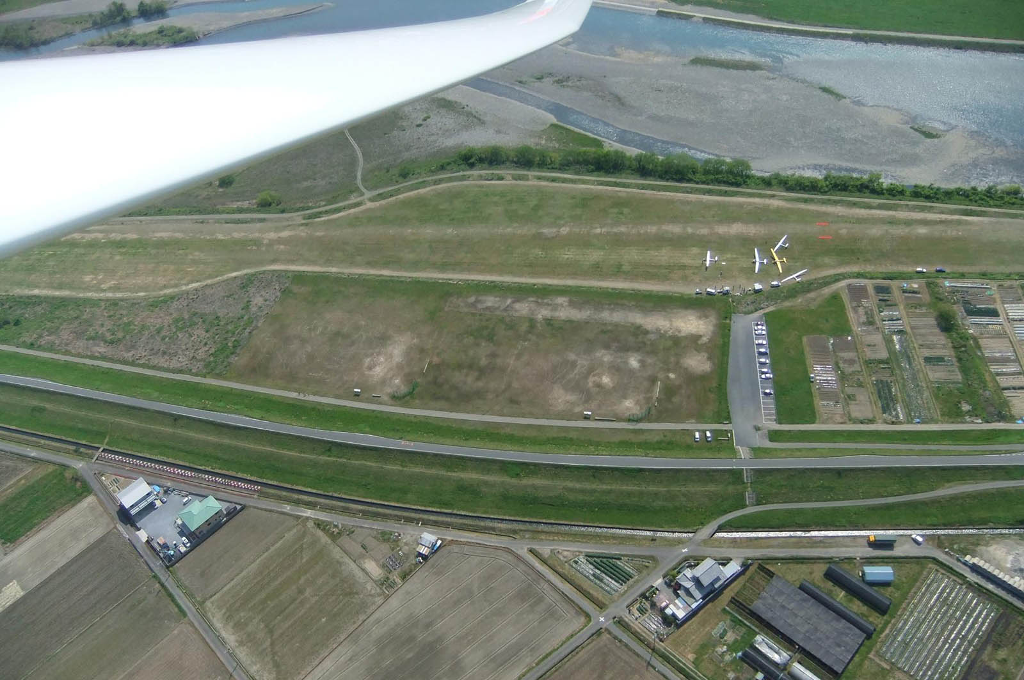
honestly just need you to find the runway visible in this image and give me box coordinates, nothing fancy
[0,179,1024,299]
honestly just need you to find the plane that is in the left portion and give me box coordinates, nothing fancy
[0,0,600,259]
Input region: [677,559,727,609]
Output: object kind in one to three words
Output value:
house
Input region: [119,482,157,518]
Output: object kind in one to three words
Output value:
building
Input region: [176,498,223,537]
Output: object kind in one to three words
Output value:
house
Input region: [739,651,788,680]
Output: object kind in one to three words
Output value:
greenhouse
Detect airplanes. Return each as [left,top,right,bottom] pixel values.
[780,271,809,280]
[752,248,767,272]
[702,251,718,266]
[770,248,786,272]
[776,234,788,253]
[0,0,600,259]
